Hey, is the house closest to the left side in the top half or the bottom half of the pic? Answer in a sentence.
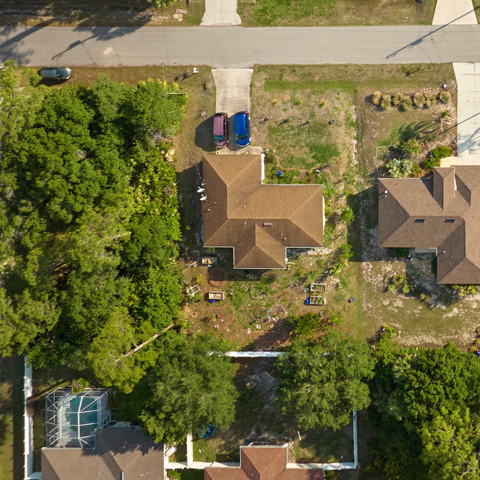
You can find the house closest to the left side in the bottom half.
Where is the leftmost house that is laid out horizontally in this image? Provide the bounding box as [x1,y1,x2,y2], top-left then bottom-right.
[41,424,169,480]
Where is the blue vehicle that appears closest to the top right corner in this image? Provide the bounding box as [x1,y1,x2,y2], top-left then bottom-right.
[234,112,251,146]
